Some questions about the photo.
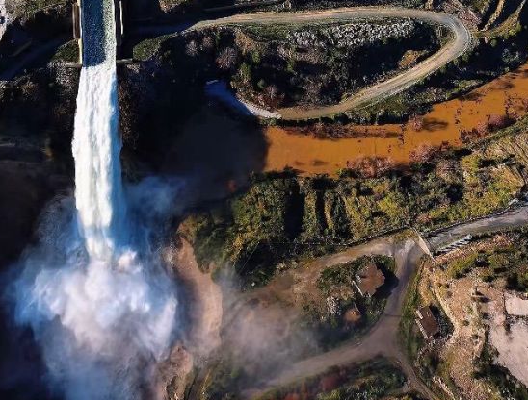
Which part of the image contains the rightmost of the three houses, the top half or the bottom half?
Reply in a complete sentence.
Seen from above, the rightmost of the three houses lies in the bottom half of the view.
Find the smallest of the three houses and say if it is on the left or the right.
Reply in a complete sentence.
You can find the smallest of the three houses on the right side of the picture.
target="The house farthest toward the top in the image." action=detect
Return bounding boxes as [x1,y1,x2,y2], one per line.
[349,263,389,301]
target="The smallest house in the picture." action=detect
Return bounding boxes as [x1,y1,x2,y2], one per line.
[342,303,364,327]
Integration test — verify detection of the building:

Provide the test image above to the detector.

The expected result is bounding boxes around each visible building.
[413,304,446,343]
[342,303,364,327]
[349,263,389,301]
